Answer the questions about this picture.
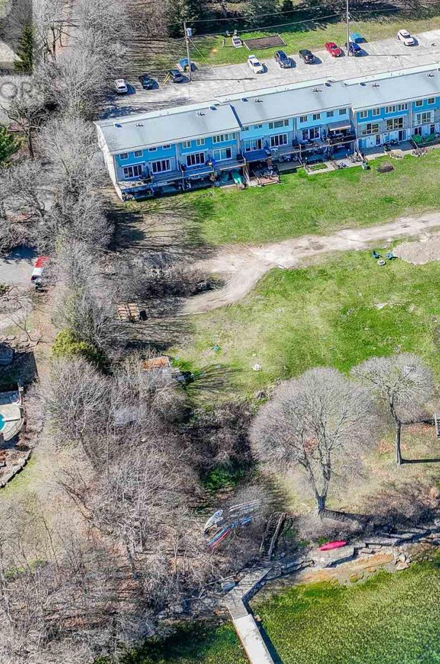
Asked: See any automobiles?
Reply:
Yes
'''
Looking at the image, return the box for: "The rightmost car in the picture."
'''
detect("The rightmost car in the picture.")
[396,25,417,43]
